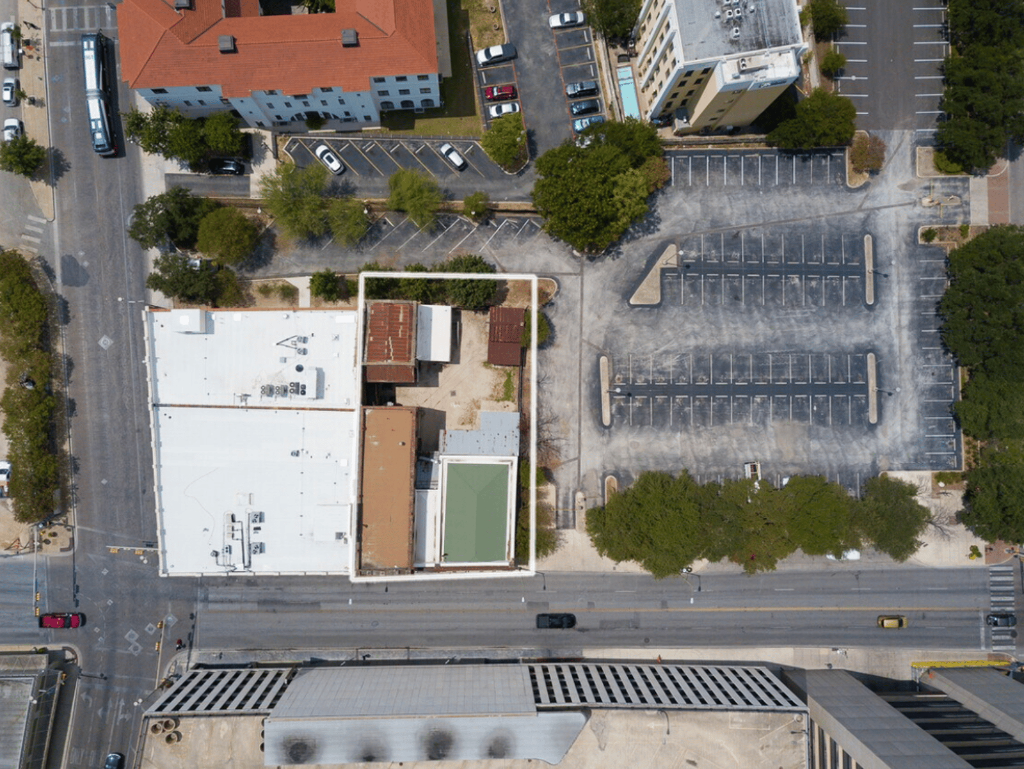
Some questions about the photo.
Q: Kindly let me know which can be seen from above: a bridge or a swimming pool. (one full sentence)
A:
This aerial view contains a swimming pool.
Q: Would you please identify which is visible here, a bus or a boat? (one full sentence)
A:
I can see a bus in this picture.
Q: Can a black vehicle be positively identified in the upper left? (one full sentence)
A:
Yes, there is a black vehicle in the upper left.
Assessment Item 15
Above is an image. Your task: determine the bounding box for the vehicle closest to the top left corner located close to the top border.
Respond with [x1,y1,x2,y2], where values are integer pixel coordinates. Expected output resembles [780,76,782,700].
[0,24,25,74]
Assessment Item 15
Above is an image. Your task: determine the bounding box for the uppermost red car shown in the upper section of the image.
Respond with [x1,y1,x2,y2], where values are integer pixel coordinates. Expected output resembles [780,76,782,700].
[485,84,517,102]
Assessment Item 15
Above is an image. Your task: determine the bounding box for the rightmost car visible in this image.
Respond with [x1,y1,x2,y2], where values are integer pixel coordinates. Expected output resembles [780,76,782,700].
[985,613,1015,629]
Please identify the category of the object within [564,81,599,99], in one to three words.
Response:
vehicle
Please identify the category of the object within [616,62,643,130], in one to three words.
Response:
swimming pool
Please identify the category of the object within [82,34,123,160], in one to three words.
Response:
bus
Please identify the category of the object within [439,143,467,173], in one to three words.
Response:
car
